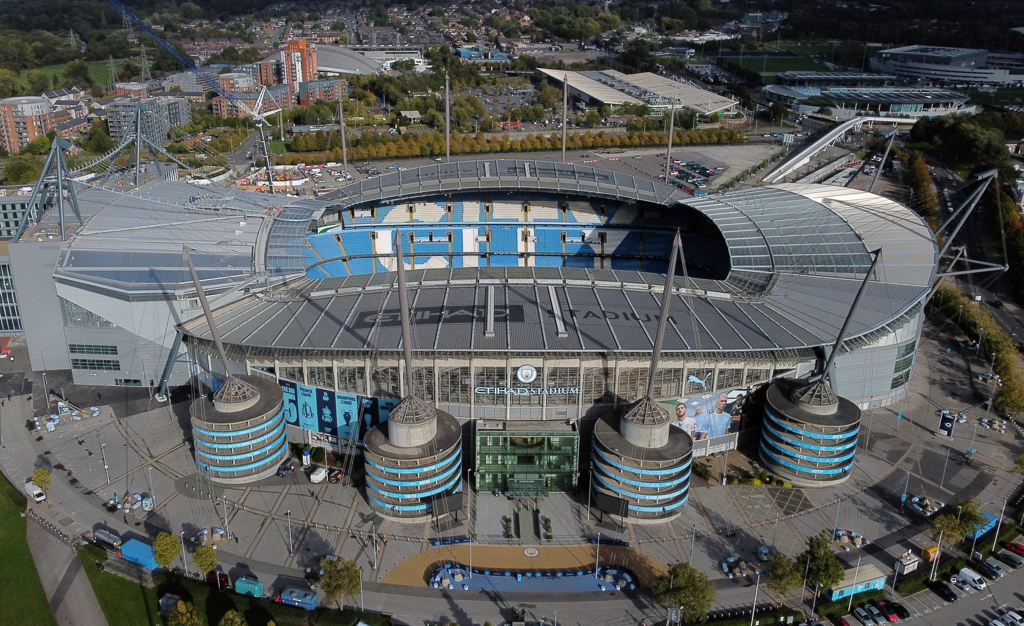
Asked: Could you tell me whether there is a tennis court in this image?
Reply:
No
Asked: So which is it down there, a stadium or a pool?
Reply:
stadium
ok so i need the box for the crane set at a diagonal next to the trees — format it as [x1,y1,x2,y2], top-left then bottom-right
[110,0,285,180]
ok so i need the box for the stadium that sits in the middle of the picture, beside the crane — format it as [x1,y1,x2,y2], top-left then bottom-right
[53,159,952,472]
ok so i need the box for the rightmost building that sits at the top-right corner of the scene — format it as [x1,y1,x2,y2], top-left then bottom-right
[868,45,1024,85]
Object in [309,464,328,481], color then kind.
white vehicle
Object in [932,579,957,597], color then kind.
black car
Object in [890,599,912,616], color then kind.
black car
